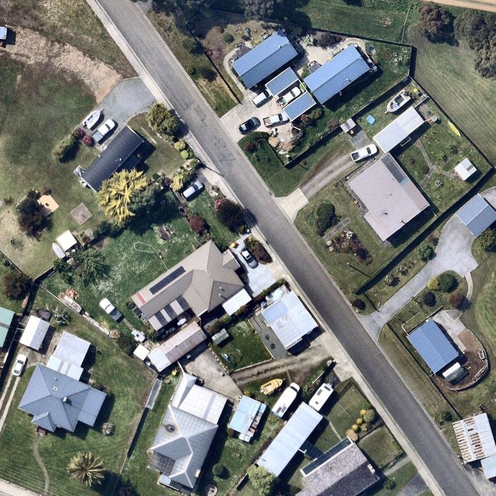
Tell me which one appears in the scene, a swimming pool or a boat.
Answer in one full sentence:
This aerial view contains a boat.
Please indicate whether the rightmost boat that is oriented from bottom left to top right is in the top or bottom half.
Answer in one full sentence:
It is in the top half that the rightmost boat that is oriented from bottom left to top right appears.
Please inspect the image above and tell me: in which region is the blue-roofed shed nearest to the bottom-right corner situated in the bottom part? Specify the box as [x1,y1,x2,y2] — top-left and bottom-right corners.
[407,320,458,374]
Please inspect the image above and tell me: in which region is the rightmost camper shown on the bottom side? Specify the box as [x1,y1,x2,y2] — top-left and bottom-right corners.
[309,381,333,410]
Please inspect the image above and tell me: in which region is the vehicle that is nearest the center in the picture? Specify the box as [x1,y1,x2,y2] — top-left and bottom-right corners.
[239,246,259,270]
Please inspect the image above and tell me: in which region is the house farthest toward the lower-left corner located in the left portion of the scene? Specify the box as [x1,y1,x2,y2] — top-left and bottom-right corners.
[17,364,106,432]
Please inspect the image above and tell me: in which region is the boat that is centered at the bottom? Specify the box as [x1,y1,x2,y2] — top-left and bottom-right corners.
[261,380,283,396]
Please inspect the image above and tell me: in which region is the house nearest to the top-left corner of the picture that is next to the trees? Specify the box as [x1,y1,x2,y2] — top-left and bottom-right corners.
[81,126,143,192]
